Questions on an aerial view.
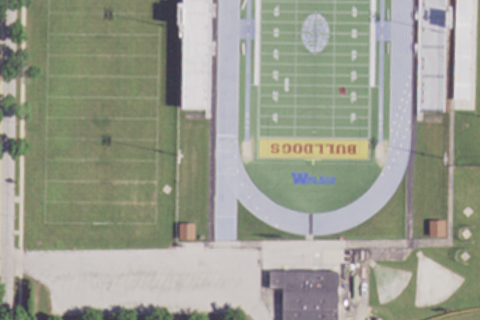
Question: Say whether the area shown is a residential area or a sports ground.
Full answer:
What you see here is a sports ground.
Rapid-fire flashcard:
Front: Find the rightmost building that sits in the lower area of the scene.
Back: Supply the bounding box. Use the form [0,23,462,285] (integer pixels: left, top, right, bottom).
[430,220,447,238]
